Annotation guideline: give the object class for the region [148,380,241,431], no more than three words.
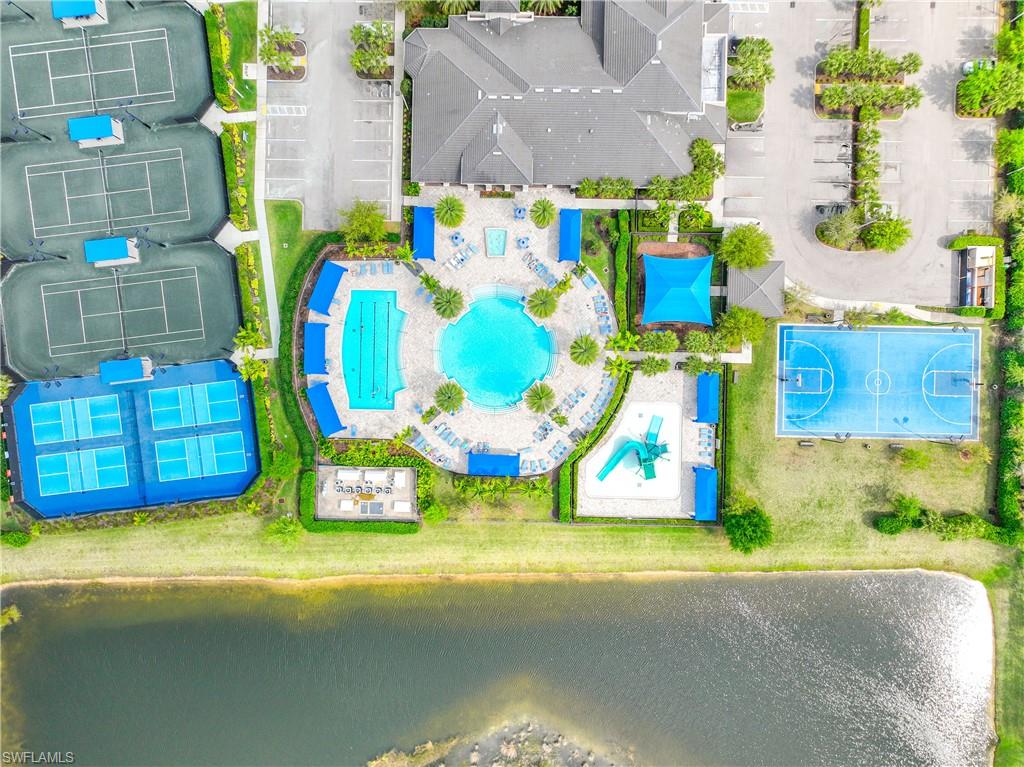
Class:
sports court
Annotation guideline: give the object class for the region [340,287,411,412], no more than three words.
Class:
swimming pool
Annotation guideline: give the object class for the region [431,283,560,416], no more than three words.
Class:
swimming pool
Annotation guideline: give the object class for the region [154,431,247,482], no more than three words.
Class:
sports court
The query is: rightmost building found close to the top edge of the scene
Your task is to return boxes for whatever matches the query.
[404,0,732,195]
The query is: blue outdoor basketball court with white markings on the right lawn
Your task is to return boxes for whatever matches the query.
[777,324,980,440]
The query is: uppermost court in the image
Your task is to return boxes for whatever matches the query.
[0,0,205,141]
